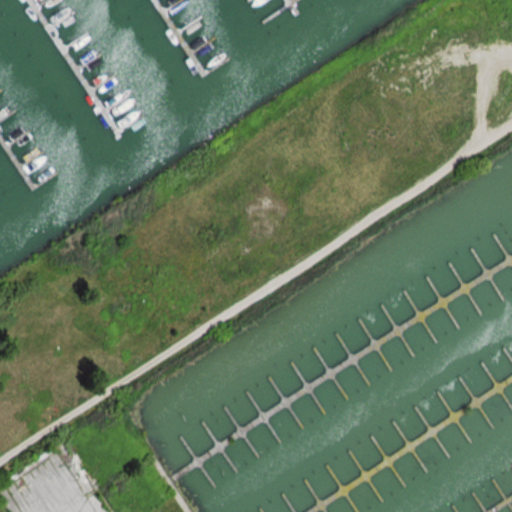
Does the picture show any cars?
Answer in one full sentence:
No, the picture doesn't show any car.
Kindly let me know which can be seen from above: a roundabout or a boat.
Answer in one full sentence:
The image shows a boat.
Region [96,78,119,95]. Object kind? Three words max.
boat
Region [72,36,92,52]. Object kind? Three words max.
boat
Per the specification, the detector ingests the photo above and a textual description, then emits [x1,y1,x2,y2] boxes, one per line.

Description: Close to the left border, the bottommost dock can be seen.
[0,110,58,192]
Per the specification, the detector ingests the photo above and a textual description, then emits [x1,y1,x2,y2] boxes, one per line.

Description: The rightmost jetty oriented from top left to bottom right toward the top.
[150,0,230,77]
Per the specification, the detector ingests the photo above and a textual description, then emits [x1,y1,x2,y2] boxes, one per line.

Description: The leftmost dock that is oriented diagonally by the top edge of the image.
[28,0,134,140]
